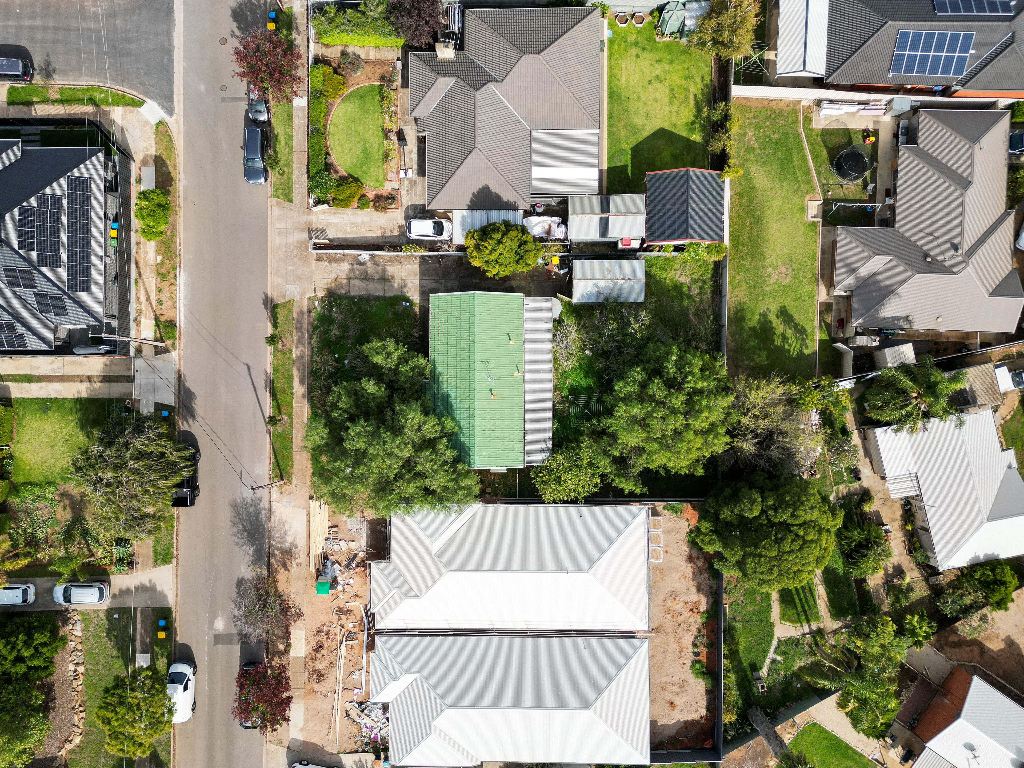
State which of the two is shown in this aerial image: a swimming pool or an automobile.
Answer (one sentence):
It is an automobile that can be seen here.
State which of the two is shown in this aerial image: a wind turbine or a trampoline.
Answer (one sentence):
Of the two, only a trampoline appears.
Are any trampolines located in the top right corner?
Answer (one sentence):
Yes, a trampoline shows up in the top right corner.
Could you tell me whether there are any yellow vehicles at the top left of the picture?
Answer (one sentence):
No, there is no yellow vehicle at the top left of the picture.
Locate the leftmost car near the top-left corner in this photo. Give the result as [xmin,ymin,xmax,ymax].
[0,51,31,84]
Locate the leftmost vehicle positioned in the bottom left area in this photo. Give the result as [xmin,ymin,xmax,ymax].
[0,579,34,607]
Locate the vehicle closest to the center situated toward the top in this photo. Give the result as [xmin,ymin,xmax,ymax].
[404,213,452,242]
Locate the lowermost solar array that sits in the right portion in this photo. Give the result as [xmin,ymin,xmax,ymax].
[890,30,976,77]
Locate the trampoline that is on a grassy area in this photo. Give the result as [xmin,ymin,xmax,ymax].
[830,143,880,187]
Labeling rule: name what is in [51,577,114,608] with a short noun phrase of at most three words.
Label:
car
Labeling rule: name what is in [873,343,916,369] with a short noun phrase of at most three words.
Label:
house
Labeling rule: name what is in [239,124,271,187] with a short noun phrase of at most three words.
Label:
car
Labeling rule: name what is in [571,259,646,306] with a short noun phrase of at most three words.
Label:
shed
